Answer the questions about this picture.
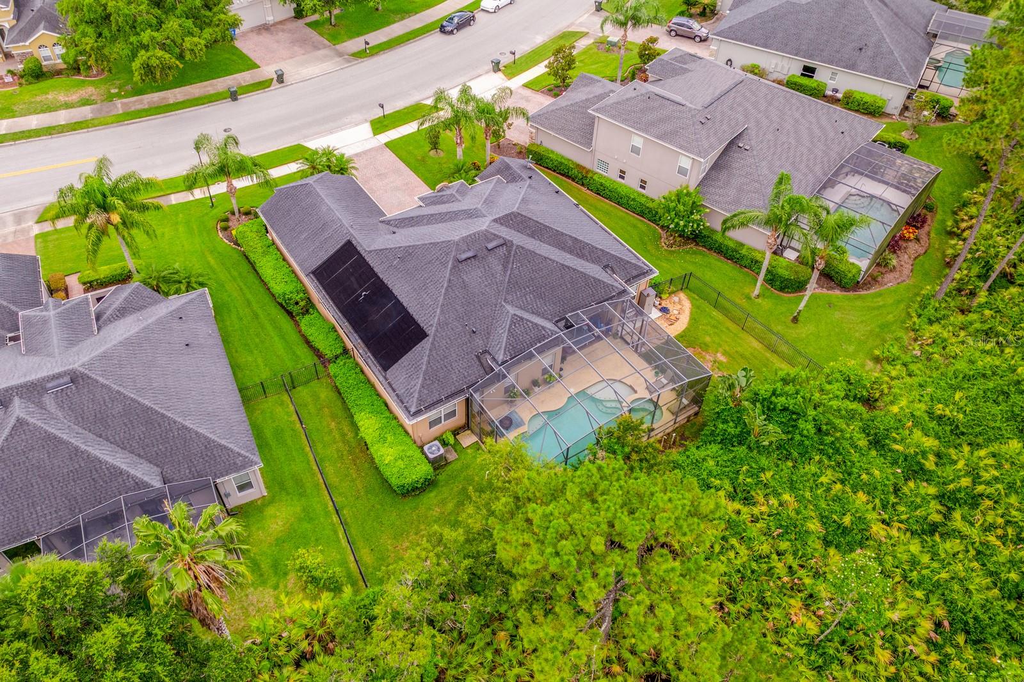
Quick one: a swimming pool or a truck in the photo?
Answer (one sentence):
There is a swimming pool in the scene.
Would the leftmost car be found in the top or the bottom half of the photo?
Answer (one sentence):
The top half of the photo is where the leftmost car is.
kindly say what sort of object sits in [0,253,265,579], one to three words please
house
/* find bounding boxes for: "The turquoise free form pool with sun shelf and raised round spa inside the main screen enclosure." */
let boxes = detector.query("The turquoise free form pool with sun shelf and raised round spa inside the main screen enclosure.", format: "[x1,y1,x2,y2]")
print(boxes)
[517,370,671,485]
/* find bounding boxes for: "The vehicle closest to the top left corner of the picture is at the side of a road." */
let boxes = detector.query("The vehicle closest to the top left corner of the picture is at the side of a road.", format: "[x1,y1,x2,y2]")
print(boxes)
[436,9,479,36]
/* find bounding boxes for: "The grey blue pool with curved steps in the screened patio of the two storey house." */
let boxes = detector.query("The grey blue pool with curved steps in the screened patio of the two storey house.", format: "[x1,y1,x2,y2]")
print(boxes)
[830,188,905,253]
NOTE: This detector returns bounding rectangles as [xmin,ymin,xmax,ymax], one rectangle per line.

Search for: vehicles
[665,12,713,41]
[436,9,479,36]
[479,0,519,13]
